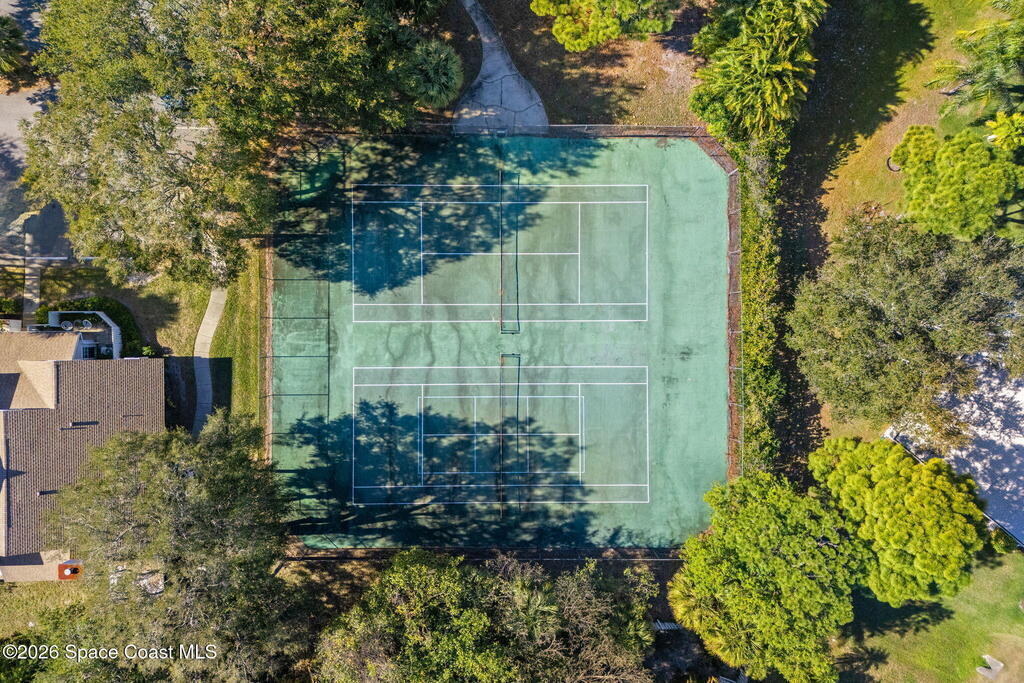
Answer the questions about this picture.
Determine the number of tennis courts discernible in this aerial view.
two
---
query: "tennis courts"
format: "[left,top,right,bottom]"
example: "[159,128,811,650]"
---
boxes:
[272,344,729,548]
[272,136,729,344]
